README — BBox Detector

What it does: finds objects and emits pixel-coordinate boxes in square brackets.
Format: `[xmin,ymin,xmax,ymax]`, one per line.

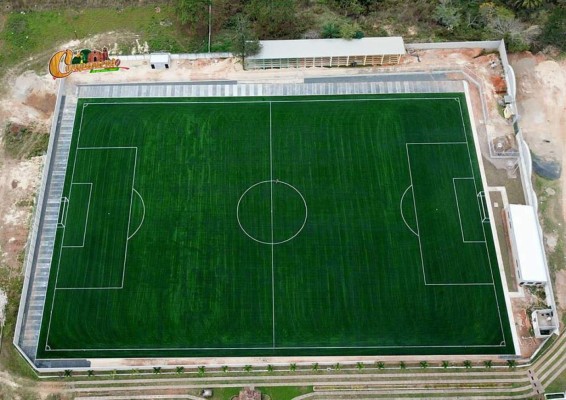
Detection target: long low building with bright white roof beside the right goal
[507,201,550,286]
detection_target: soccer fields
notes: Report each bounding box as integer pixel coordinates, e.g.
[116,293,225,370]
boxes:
[36,92,515,359]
